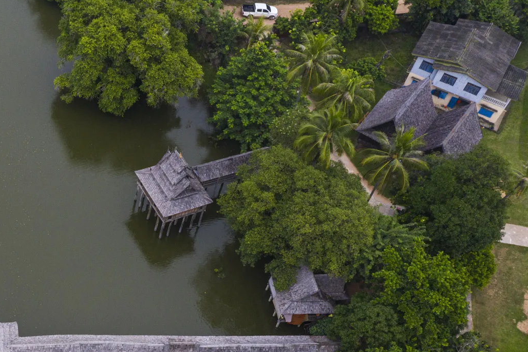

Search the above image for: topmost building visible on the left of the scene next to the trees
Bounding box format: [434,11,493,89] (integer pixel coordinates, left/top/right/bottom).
[135,144,213,237]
